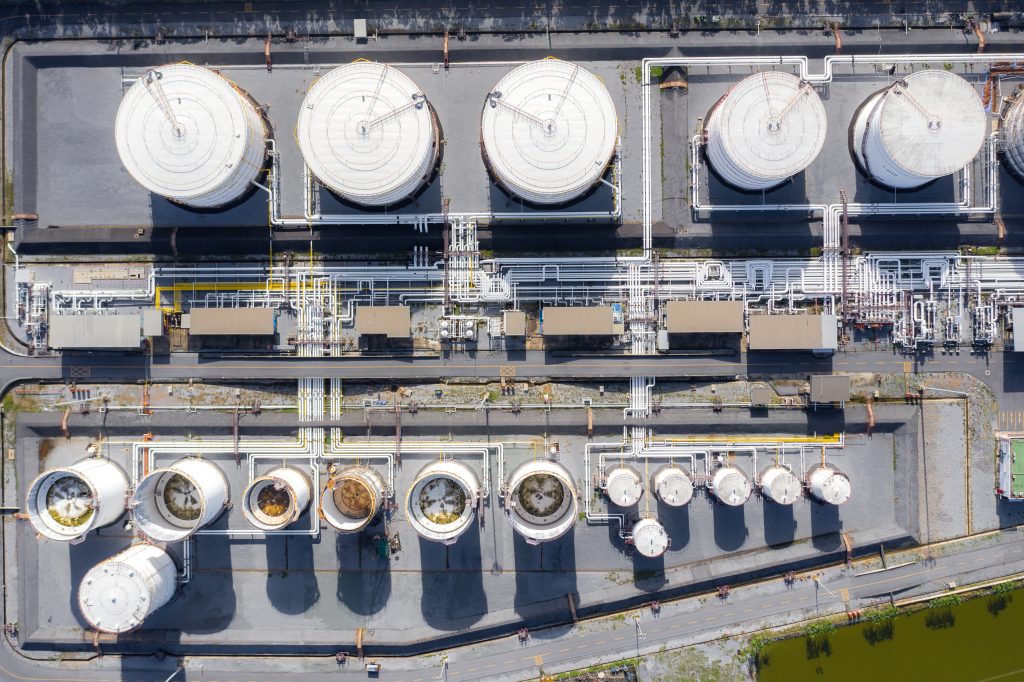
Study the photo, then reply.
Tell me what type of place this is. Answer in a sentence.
This image shows an industrial area.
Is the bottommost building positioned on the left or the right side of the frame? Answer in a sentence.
The bottommost building sits on the right side.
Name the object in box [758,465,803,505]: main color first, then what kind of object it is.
white storage tank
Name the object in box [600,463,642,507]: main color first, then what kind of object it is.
white storage tank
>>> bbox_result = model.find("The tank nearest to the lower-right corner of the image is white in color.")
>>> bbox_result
[806,465,852,504]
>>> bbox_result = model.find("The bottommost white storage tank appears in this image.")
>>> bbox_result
[76,543,179,635]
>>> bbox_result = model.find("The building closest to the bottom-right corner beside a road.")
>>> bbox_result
[992,436,1024,500]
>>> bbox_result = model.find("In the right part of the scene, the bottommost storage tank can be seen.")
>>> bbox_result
[628,515,669,558]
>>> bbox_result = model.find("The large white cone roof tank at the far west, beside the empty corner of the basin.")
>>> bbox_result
[112,59,275,213]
